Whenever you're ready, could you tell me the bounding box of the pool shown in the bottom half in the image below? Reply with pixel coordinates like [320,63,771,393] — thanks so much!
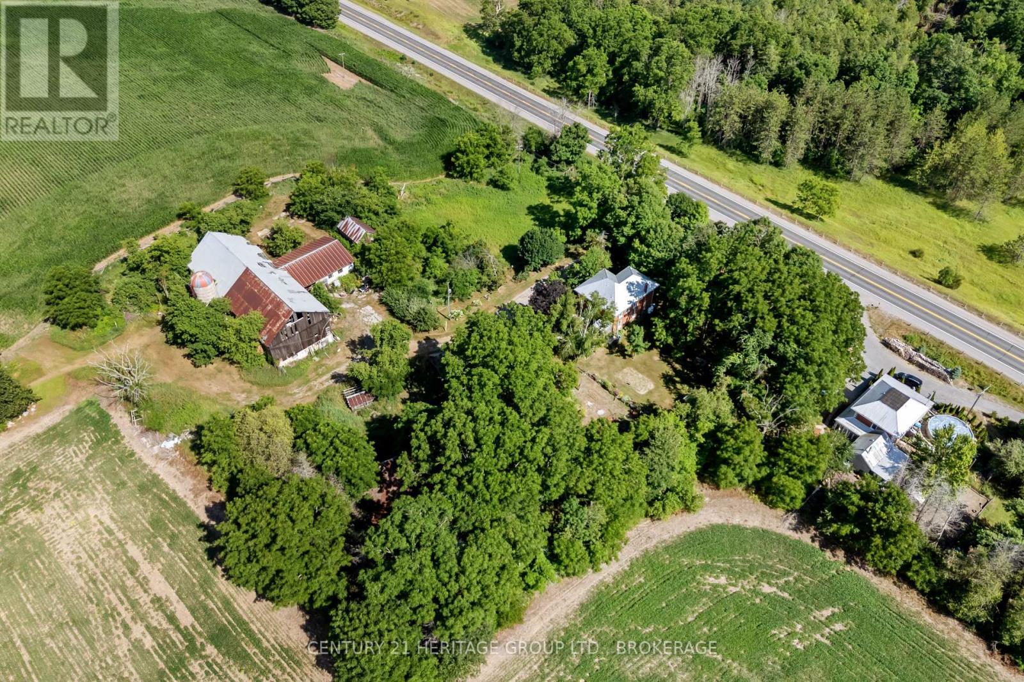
[923,414,976,453]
